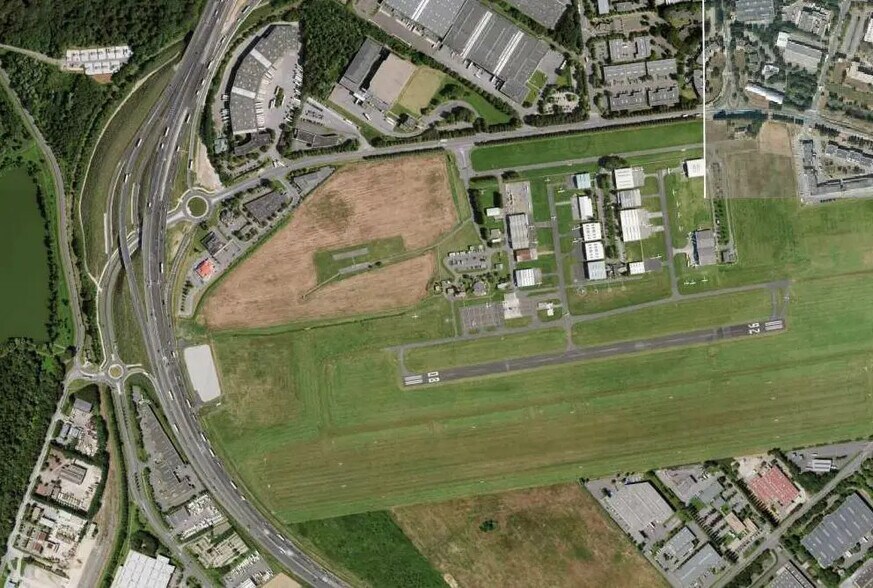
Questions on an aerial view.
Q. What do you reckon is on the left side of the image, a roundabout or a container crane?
roundabout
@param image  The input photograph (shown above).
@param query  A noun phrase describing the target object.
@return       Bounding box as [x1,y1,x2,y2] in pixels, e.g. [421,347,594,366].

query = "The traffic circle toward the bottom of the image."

[84,345,141,394]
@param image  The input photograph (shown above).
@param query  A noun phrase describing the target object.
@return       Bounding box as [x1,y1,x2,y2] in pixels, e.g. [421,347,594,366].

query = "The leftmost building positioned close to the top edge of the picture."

[230,25,298,133]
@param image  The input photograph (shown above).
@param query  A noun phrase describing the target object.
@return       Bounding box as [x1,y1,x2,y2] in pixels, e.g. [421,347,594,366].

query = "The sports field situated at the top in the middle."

[401,67,447,114]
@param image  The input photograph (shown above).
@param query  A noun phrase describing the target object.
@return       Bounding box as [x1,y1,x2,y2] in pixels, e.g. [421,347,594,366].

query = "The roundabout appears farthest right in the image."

[167,187,222,225]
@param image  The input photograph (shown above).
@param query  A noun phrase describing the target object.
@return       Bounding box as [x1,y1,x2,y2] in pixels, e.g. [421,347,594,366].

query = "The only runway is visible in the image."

[404,320,787,385]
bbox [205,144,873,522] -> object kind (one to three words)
airport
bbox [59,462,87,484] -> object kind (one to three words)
shed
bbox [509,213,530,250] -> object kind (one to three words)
hangar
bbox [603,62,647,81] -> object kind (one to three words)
building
